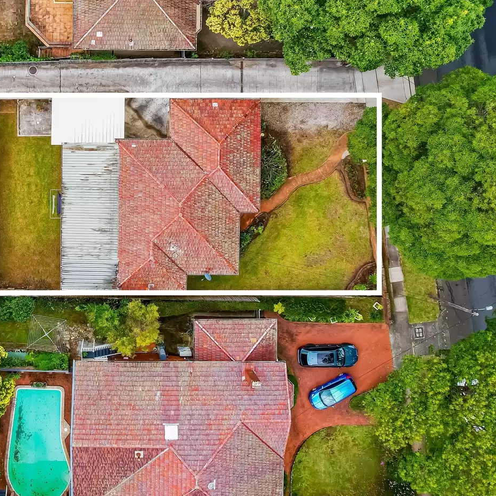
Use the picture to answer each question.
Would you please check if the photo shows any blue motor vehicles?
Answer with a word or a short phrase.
Yes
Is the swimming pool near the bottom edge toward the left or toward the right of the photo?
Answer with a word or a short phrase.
left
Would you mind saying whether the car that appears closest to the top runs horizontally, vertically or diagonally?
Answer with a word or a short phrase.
horizontally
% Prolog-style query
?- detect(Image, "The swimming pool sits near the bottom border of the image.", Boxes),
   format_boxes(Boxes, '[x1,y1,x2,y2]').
[2,384,71,496]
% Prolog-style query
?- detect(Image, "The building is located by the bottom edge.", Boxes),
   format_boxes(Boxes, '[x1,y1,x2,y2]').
[71,355,295,496]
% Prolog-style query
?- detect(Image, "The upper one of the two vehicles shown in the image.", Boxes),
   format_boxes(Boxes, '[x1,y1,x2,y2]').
[296,341,356,371]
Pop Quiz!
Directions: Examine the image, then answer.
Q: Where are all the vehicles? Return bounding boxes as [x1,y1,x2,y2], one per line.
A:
[296,341,356,371]
[303,369,359,409]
